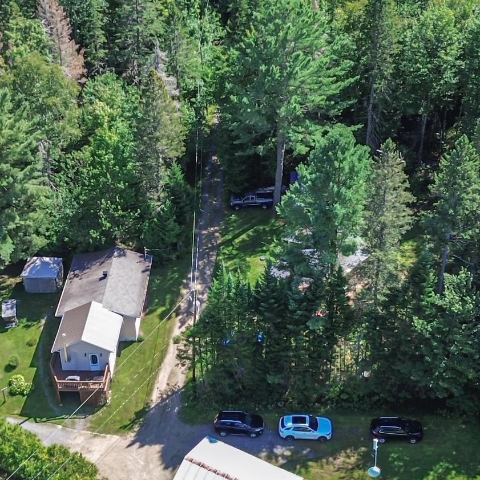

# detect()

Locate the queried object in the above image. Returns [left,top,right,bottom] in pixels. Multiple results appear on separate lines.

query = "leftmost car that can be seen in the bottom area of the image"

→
[216,409,266,437]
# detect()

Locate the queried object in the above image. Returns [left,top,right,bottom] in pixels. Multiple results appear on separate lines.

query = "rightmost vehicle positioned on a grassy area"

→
[370,417,424,444]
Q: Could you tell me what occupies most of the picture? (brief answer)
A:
trees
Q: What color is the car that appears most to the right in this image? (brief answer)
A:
black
